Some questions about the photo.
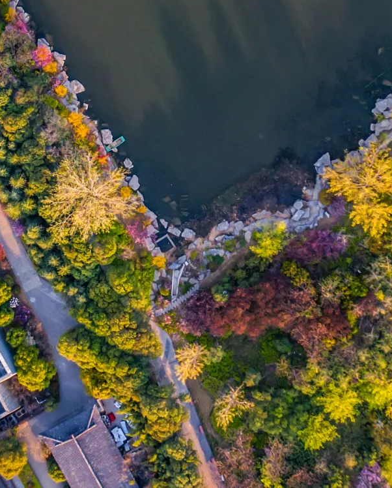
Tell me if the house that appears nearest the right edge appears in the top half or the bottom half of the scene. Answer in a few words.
bottom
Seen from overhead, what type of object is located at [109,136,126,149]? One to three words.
boat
